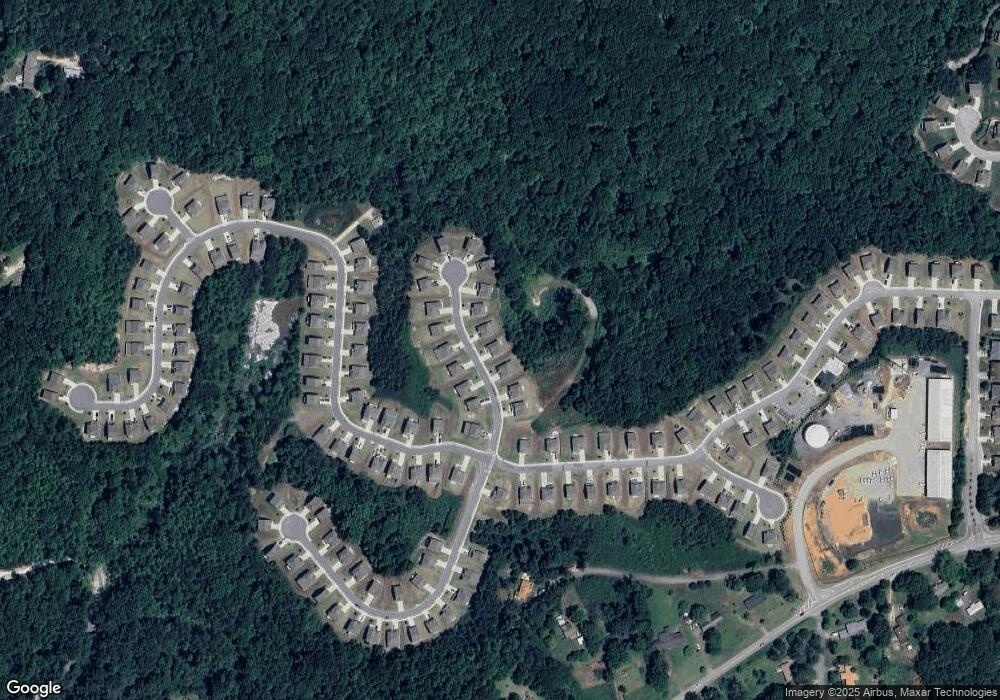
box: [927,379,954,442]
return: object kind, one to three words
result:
building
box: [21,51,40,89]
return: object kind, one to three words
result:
house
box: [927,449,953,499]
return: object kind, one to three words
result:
building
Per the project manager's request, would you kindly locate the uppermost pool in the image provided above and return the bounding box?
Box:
[813,355,846,391]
